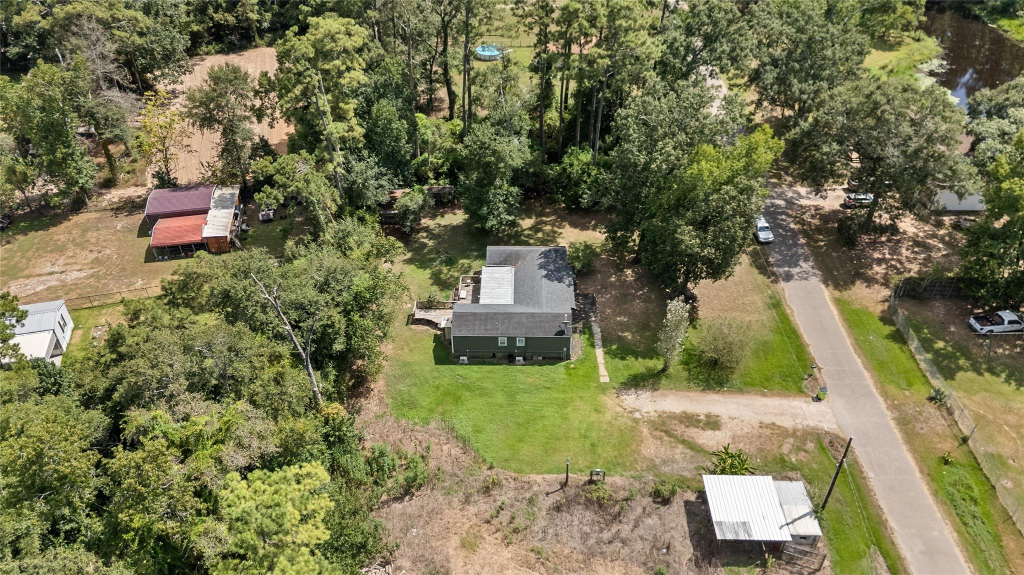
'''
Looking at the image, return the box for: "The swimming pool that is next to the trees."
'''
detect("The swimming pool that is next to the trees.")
[476,45,508,62]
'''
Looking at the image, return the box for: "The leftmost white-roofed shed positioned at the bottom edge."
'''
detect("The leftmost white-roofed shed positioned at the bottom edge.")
[699,475,791,566]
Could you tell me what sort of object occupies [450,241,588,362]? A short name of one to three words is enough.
house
